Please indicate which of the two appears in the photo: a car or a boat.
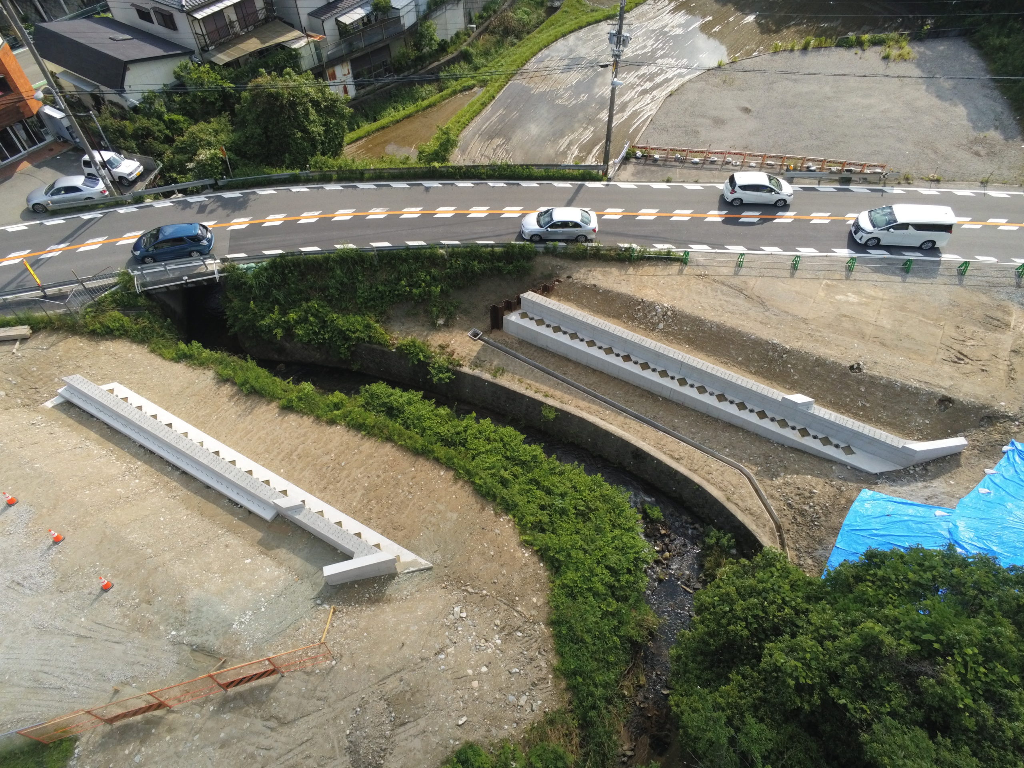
car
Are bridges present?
Yes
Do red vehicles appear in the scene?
No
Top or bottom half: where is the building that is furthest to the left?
top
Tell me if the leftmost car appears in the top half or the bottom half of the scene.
top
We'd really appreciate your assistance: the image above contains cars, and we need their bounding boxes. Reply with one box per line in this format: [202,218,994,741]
[130,223,213,263]
[81,143,142,185]
[851,203,956,250]
[19,170,103,212]
[723,171,797,207]
[521,208,599,244]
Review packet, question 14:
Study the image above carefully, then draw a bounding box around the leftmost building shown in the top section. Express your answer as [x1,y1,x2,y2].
[0,43,55,165]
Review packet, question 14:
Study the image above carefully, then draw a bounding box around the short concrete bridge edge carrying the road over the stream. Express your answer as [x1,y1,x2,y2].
[136,262,238,351]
